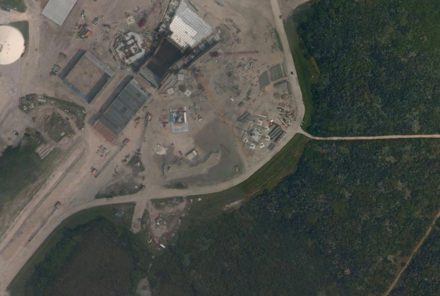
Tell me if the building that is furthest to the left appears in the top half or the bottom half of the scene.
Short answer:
top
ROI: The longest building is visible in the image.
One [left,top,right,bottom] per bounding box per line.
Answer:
[94,78,153,141]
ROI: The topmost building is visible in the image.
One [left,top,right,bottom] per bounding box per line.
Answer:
[63,50,115,103]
